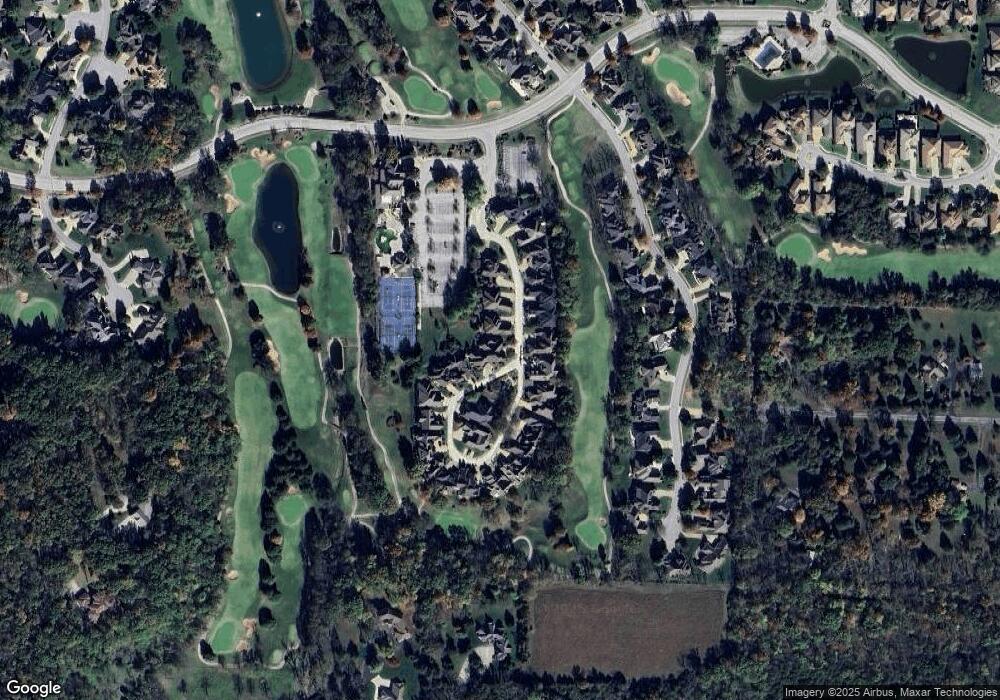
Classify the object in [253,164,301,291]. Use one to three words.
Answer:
pond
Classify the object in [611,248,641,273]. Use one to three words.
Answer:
house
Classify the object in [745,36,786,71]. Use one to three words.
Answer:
swimming pool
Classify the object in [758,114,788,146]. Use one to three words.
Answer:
house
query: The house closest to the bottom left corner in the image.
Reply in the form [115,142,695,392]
[76,590,115,618]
